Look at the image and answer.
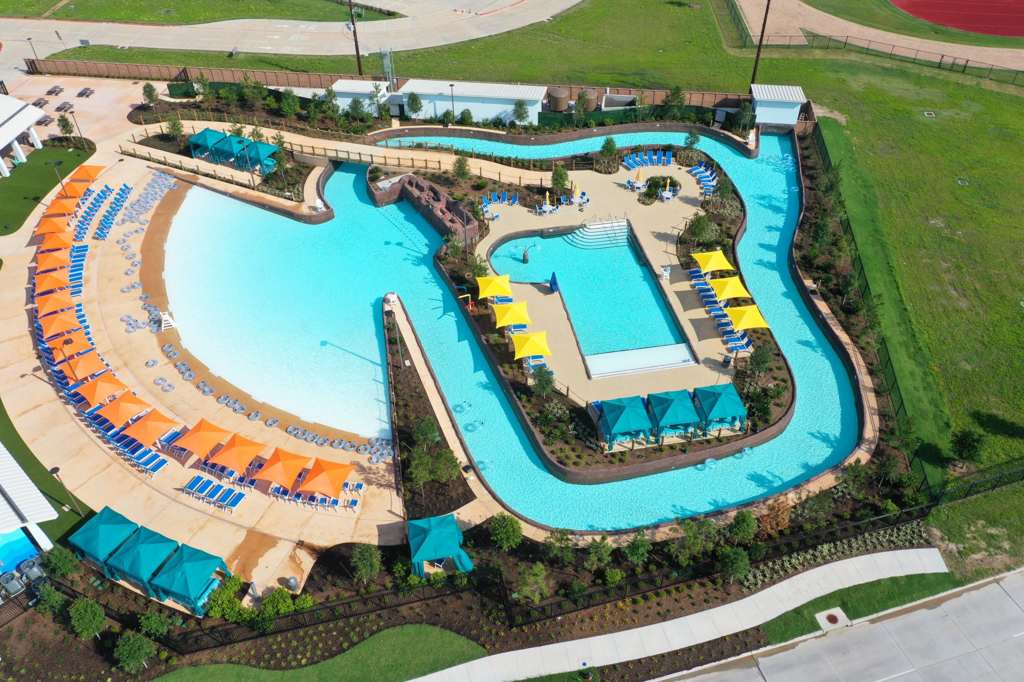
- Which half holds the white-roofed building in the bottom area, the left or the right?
left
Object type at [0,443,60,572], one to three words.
building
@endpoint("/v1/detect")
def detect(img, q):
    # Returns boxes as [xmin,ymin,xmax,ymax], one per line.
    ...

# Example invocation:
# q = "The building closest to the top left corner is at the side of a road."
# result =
[0,89,46,176]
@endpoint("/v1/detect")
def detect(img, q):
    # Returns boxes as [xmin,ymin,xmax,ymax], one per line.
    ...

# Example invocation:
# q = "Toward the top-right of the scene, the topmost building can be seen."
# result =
[752,81,807,125]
